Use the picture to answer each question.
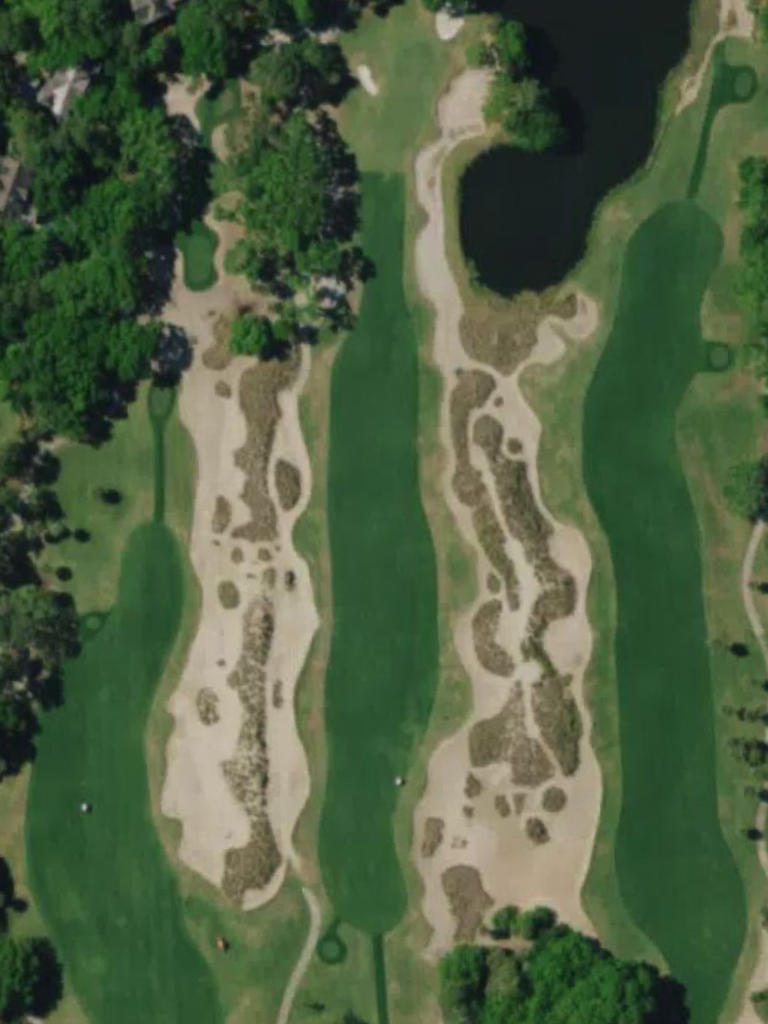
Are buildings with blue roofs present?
No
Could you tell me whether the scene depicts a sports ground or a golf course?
golf course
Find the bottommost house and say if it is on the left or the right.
left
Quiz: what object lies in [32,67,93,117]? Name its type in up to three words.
house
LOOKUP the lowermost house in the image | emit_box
[0,159,37,216]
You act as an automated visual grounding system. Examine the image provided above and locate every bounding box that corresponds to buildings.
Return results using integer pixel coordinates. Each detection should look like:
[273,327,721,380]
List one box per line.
[32,67,93,117]
[127,0,189,25]
[0,159,37,216]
